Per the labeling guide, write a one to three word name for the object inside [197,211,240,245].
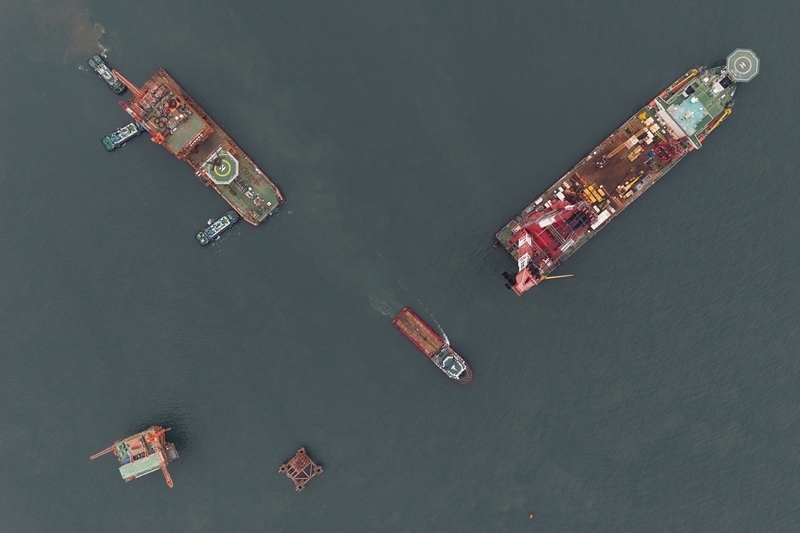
boat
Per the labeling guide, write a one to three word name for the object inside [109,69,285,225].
ship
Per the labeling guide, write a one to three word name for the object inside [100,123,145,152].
boat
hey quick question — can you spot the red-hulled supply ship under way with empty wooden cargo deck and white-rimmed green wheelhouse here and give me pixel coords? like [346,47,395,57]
[394,309,470,383]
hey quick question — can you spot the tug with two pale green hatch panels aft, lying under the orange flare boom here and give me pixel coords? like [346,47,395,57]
[88,54,126,94]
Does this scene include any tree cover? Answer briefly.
No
